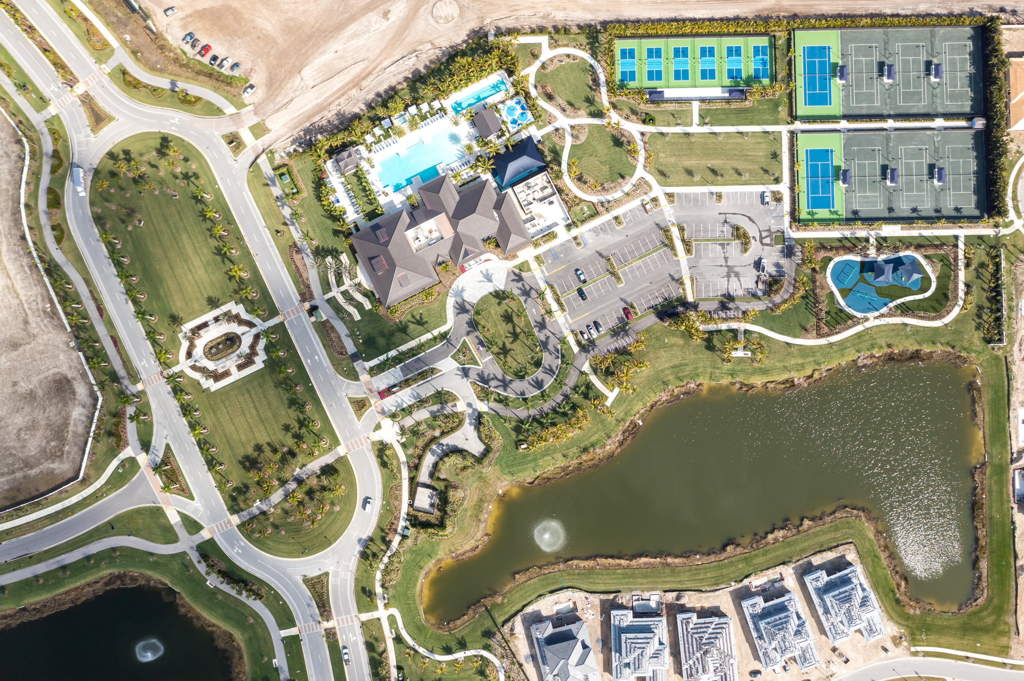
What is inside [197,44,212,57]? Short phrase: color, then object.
red vehicle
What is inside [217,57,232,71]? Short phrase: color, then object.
white vehicle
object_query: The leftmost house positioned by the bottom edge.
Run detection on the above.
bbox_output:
[530,619,600,681]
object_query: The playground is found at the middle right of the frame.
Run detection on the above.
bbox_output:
[826,250,937,318]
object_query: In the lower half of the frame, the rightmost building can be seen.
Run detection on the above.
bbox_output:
[804,567,886,646]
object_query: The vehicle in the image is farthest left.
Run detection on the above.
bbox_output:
[73,164,88,194]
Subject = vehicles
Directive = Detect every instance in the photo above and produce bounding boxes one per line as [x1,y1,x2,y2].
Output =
[197,44,212,57]
[344,649,351,666]
[73,164,88,194]
[577,288,587,301]
[784,661,791,674]
[575,269,587,284]
[763,192,770,205]
[580,330,588,340]
[761,259,767,274]
[165,7,177,16]
[364,499,373,514]
[243,83,257,97]
[217,57,232,71]
[774,667,782,679]
[588,326,597,338]
[230,62,242,73]
[209,54,219,67]
[183,32,195,44]
[191,38,201,50]
[594,322,604,334]
[623,307,633,320]
[642,201,653,215]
